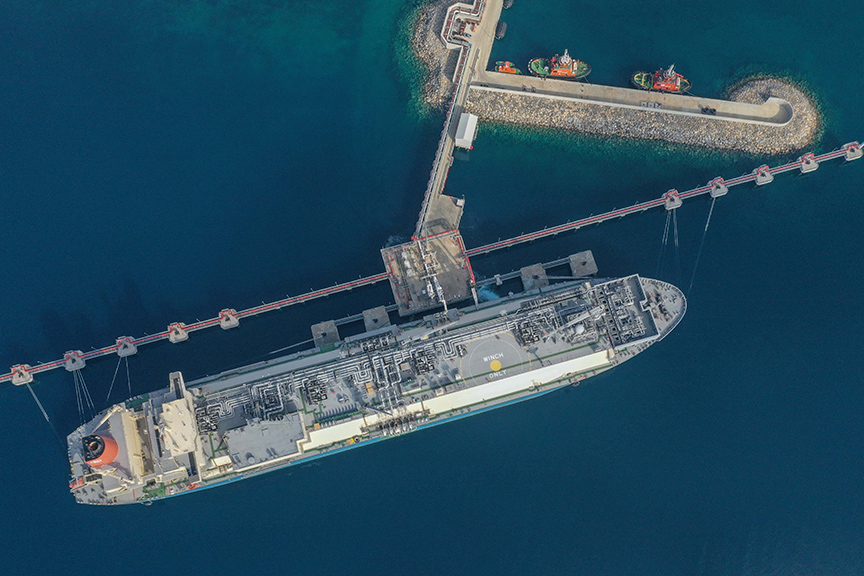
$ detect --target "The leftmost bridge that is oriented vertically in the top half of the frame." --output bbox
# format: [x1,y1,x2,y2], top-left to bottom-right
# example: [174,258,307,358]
[410,83,471,242]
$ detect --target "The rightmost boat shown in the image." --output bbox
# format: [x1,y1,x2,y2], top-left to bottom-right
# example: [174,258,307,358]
[629,67,694,94]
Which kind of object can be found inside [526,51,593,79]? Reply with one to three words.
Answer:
boat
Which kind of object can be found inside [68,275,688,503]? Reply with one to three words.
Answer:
ship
